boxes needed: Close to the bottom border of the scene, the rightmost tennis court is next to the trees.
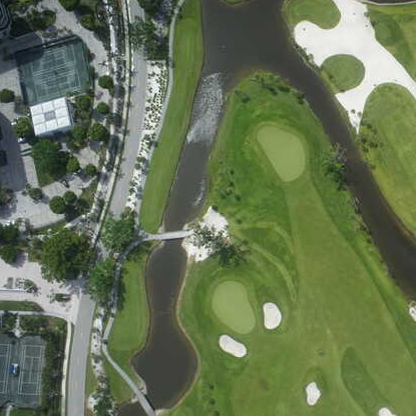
[12,332,49,407]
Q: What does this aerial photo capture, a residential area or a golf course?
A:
golf course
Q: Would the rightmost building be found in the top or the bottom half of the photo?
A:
top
